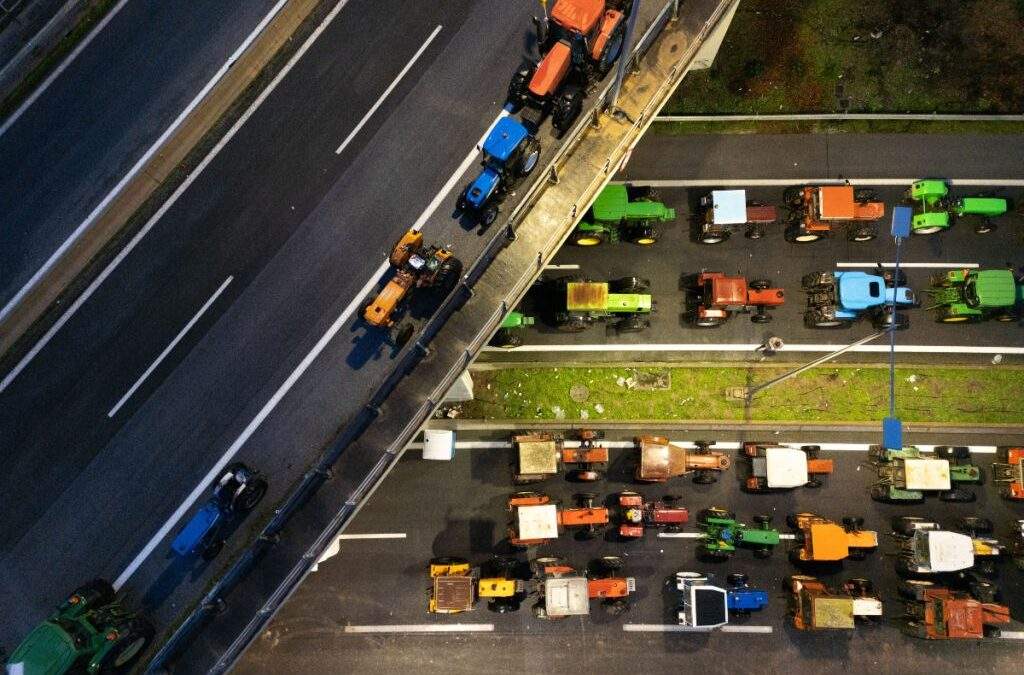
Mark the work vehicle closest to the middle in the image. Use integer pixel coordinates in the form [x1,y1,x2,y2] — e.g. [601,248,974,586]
[496,305,528,346]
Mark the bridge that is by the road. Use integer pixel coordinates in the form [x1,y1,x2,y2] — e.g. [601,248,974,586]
[0,0,743,675]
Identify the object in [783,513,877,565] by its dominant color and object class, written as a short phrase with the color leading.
orange work vehicle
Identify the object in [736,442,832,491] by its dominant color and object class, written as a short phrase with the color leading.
white work vehicle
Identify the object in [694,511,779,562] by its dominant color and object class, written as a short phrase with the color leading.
green work vehicle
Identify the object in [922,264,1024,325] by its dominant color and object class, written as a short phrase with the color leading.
green work vehicle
